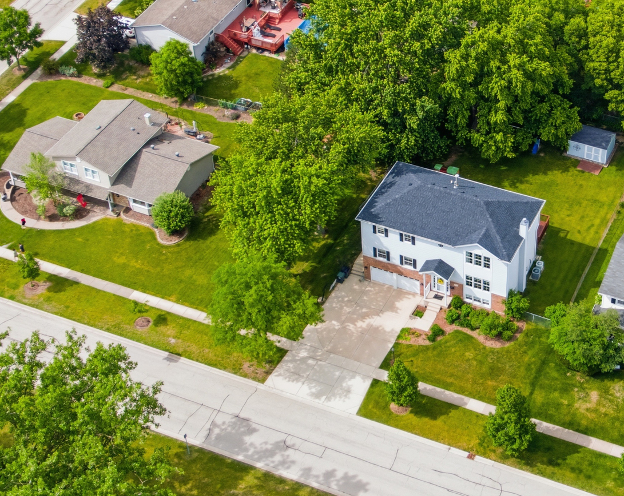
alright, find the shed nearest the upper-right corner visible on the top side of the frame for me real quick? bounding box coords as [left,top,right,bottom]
[562,123,619,175]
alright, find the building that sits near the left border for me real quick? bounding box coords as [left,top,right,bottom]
[0,97,221,221]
